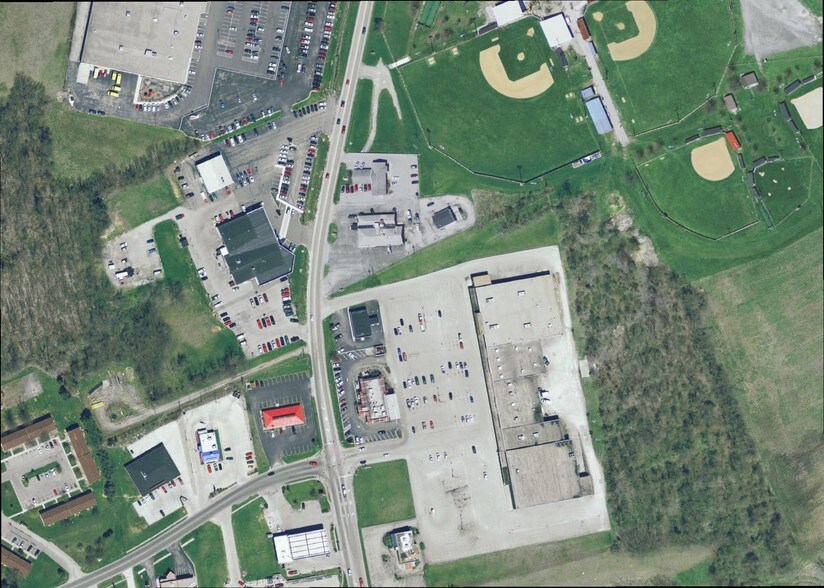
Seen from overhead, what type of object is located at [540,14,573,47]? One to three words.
building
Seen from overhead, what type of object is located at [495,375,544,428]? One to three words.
building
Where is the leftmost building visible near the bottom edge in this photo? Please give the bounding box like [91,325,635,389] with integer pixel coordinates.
[0,546,31,578]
